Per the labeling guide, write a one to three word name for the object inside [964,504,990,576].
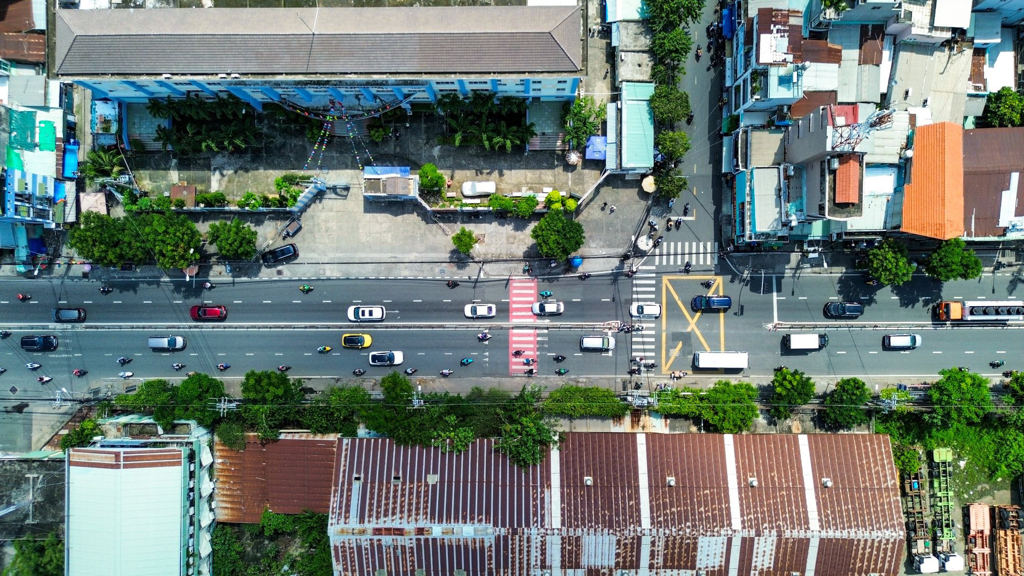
trailer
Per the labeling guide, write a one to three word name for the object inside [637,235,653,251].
umbrella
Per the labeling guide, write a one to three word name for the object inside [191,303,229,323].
car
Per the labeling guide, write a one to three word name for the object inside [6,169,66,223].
house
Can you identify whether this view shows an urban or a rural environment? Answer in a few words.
urban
